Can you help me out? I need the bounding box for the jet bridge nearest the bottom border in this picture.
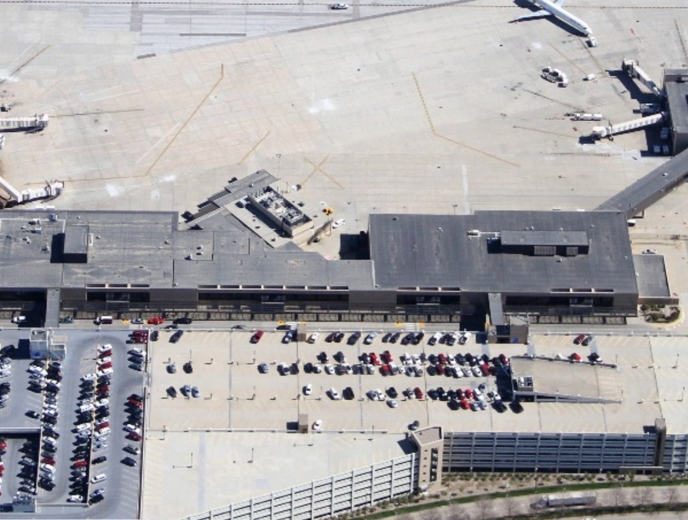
[0,177,67,210]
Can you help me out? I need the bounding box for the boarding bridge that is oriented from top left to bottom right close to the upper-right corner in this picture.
[622,61,666,107]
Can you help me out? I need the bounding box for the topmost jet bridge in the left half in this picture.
[0,115,54,136]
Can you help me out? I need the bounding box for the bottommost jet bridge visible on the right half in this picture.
[593,112,668,144]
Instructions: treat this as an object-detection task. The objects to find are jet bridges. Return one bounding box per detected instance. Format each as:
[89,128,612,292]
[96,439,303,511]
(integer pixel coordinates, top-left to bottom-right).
[622,61,666,107]
[0,177,67,210]
[0,115,54,136]
[593,112,668,144]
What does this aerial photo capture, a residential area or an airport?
airport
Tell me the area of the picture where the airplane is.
top right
